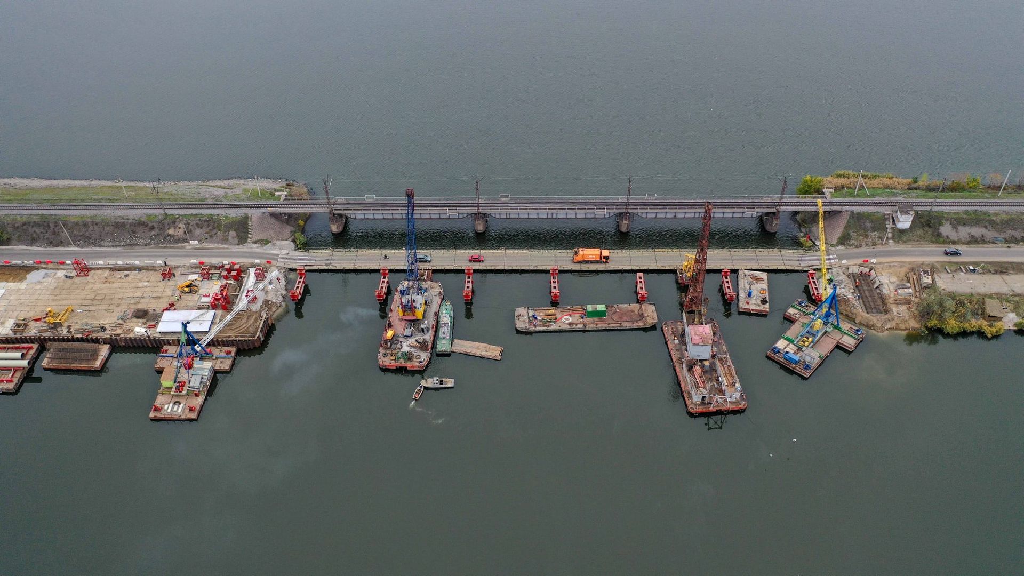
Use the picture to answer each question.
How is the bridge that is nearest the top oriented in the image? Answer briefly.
from left to right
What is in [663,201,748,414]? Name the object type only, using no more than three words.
ship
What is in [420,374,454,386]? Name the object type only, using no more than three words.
boat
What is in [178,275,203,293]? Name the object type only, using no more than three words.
work vehicle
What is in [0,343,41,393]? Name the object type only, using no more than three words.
ship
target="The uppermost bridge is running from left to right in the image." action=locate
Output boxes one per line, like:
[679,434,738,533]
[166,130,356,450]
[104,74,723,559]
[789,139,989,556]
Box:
[272,187,840,235]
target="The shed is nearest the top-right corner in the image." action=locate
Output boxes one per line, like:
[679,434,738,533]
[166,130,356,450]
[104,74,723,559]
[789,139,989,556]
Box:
[893,202,922,226]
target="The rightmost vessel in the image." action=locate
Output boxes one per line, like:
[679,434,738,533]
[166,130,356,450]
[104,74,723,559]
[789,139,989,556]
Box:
[766,198,866,378]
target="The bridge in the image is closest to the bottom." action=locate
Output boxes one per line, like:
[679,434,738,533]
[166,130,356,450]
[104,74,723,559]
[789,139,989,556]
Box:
[277,246,840,274]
